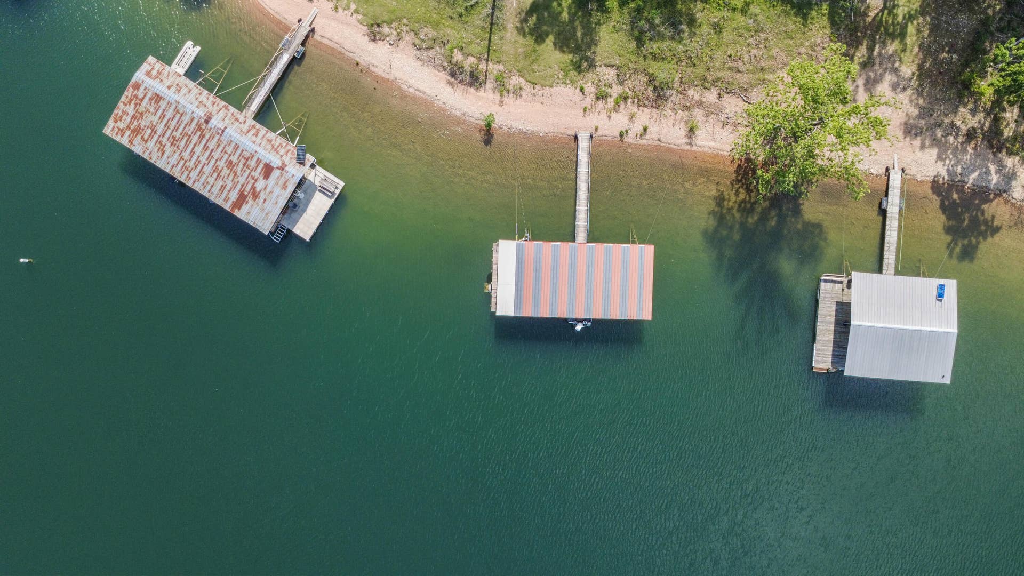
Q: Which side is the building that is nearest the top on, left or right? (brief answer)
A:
left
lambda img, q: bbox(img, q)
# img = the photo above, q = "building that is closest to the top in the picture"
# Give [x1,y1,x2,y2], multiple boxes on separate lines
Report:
[103,56,345,242]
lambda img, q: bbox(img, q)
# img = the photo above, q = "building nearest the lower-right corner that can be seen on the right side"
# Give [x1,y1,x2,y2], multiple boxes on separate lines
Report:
[811,272,960,383]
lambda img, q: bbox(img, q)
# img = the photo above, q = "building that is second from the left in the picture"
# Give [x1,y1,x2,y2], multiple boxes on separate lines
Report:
[486,225,655,321]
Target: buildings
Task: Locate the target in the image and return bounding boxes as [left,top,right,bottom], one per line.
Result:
[486,225,655,321]
[103,56,345,242]
[811,272,960,383]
